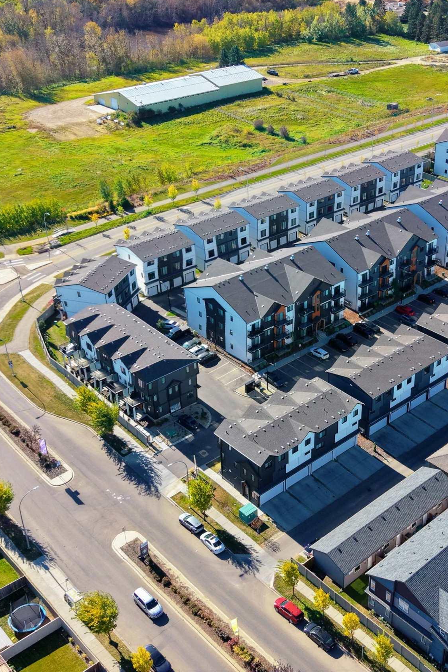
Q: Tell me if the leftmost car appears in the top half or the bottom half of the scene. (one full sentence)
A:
It is in the bottom half that the leftmost car appears.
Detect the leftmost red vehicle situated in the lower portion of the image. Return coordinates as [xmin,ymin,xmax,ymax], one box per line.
[276,596,305,622]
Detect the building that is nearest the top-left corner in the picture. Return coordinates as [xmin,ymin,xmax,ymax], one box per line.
[100,66,269,116]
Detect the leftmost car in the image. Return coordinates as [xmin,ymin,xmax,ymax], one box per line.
[134,590,162,616]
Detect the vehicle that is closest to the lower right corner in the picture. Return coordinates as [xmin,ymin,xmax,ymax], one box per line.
[307,622,336,648]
